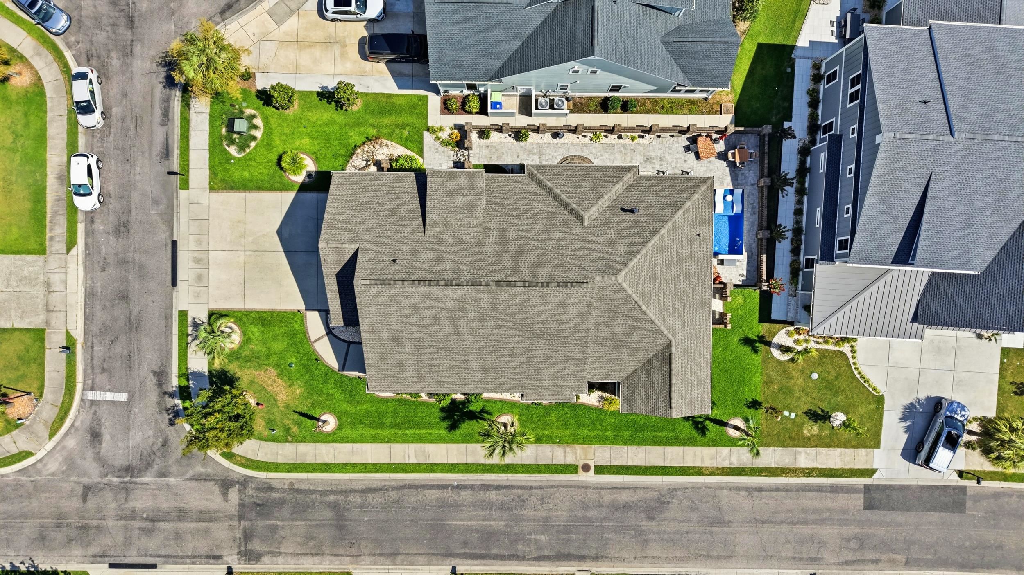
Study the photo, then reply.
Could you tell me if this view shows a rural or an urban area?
urban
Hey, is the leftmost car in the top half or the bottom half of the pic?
top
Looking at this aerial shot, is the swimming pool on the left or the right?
right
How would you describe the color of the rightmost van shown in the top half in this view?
black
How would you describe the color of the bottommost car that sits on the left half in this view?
white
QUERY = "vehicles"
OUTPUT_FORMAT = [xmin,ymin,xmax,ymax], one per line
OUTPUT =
[72,152,107,210]
[323,0,388,24]
[72,66,108,131]
[365,30,429,65]
[7,0,69,35]
[916,400,968,471]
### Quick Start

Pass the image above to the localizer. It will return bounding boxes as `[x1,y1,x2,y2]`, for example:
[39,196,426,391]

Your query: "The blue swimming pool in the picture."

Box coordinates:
[712,184,747,259]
